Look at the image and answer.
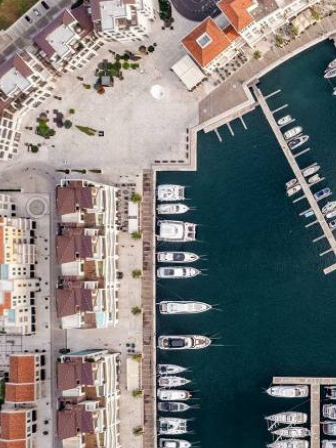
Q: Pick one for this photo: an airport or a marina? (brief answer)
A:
marina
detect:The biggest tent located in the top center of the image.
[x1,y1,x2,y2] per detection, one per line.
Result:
[170,55,205,91]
